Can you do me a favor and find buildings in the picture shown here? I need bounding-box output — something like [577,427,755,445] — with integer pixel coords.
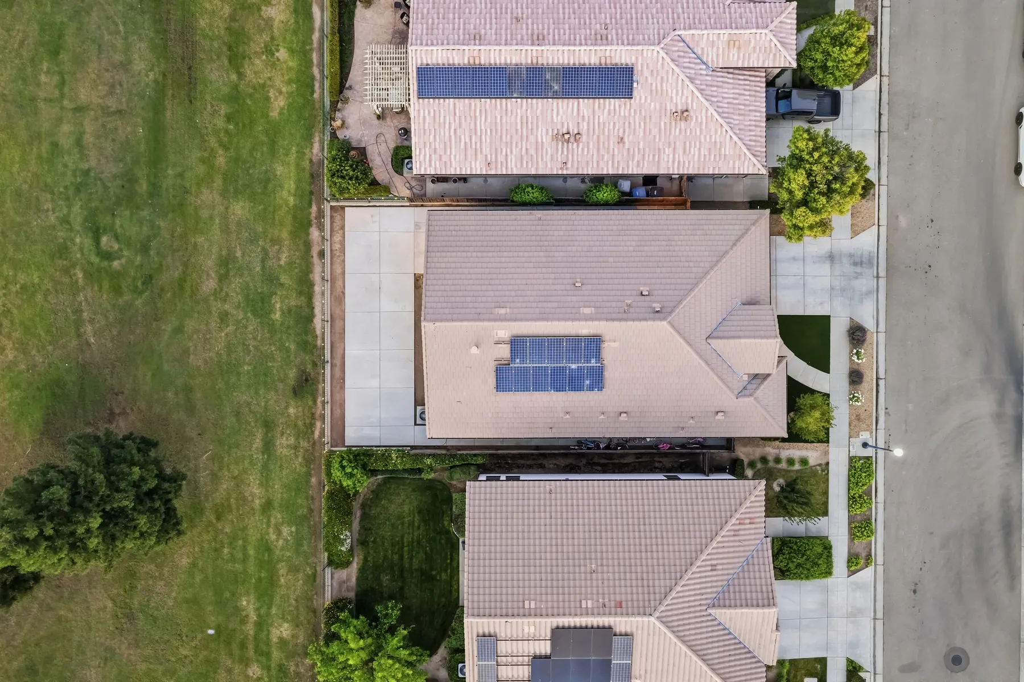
[407,0,799,178]
[462,474,779,682]
[421,208,788,439]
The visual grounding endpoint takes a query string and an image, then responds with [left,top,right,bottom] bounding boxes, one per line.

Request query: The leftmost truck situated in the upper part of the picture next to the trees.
[767,84,841,125]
